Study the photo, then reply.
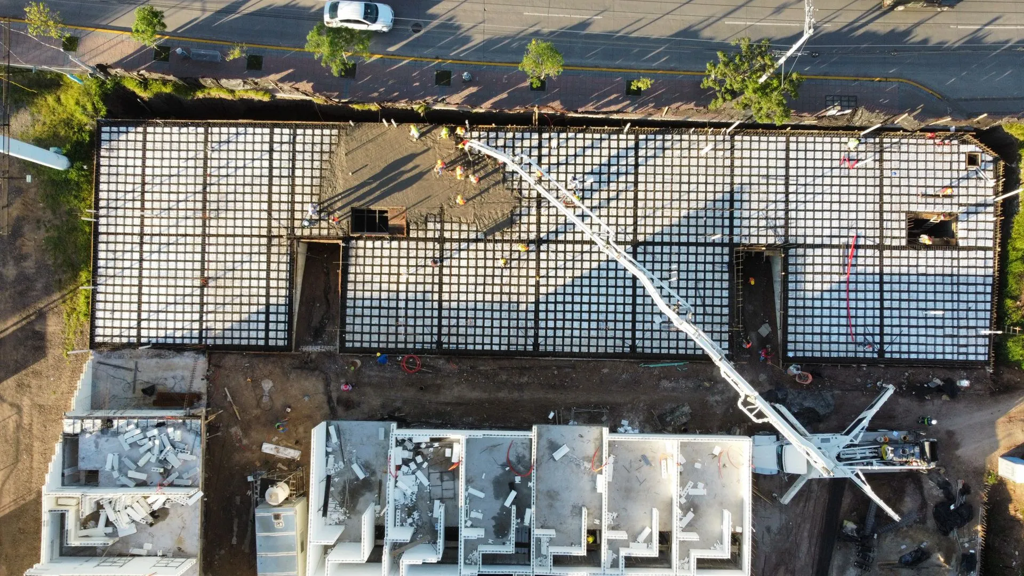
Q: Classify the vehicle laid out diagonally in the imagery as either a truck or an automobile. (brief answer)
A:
truck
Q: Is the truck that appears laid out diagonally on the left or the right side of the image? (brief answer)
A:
right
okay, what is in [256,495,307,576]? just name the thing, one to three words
building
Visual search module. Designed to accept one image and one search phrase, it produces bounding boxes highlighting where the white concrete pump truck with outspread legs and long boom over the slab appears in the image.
[460,138,941,520]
